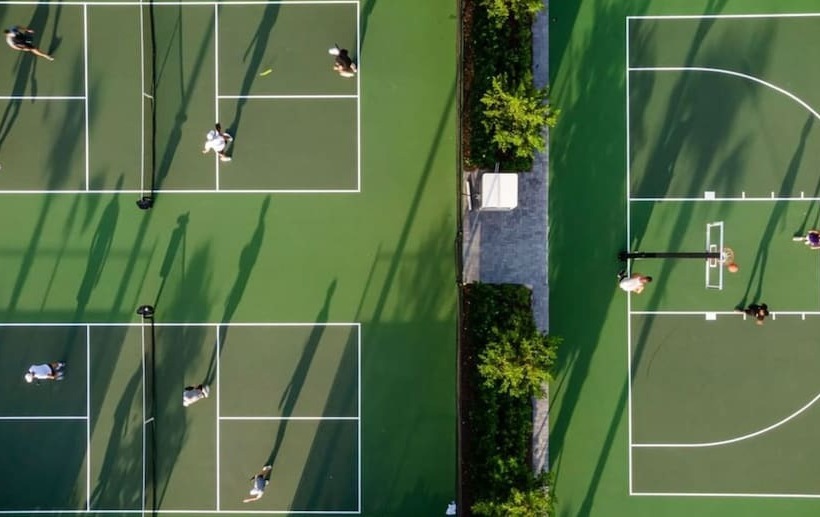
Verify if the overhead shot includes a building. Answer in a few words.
No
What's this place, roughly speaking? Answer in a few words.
sports ground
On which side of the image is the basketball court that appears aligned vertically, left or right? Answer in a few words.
right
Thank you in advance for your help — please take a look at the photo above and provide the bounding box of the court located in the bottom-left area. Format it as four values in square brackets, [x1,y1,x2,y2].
[0,323,361,513]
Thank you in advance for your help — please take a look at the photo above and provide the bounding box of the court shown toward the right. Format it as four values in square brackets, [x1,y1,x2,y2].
[627,12,820,498]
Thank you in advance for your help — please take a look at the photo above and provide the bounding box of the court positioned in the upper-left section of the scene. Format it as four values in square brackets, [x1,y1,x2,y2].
[0,1,360,193]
